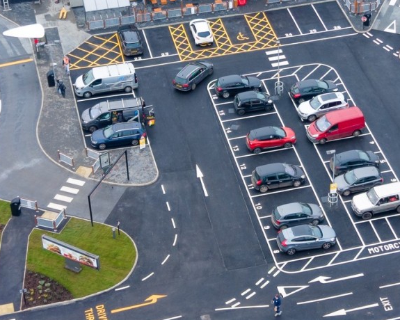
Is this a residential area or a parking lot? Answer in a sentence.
What you see here is a parking lot.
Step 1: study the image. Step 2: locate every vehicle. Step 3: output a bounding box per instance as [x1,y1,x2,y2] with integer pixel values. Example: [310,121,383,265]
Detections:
[189,20,218,48]
[288,78,337,104]
[269,200,326,232]
[327,150,381,179]
[230,92,276,117]
[244,127,297,156]
[247,162,307,195]
[117,28,146,59]
[305,102,368,144]
[296,90,350,122]
[89,121,148,152]
[351,177,400,220]
[75,61,134,97]
[214,75,264,102]
[83,93,157,132]
[170,63,214,96]
[335,166,388,201]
